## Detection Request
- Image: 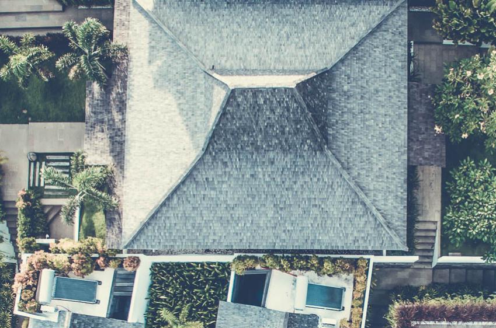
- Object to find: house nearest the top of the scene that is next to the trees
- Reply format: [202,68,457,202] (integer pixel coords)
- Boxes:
[85,0,446,269]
